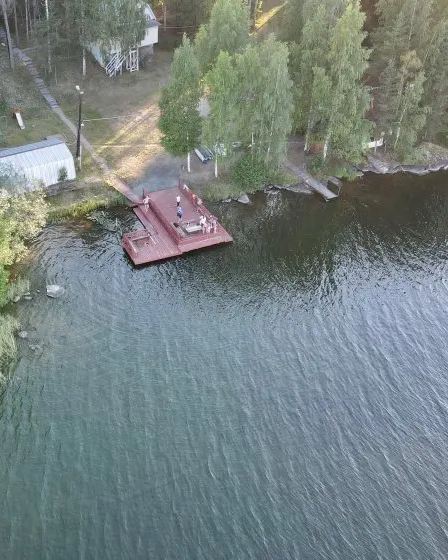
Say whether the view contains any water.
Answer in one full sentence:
Yes, there is water in the image.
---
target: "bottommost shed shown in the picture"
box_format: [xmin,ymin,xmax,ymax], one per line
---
[0,136,77,187]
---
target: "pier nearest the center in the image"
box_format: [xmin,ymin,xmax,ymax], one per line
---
[123,173,233,268]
